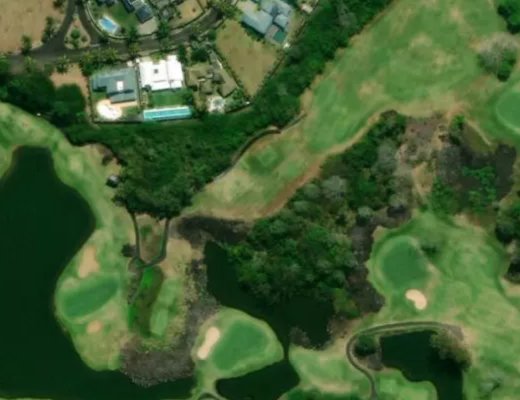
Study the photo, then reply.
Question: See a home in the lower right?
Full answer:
No, there is no home in the lower right.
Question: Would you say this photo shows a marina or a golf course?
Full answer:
What you see here is a golf course.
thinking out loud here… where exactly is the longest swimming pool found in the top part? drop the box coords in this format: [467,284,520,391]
[144,106,189,121]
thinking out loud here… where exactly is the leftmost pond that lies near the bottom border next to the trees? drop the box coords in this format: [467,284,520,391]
[205,242,333,400]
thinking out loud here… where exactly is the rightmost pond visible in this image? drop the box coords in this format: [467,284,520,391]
[379,330,463,400]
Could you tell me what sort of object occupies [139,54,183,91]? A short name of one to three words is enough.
house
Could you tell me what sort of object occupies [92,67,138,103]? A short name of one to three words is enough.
house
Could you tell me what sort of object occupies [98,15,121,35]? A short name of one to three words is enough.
swimming pool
